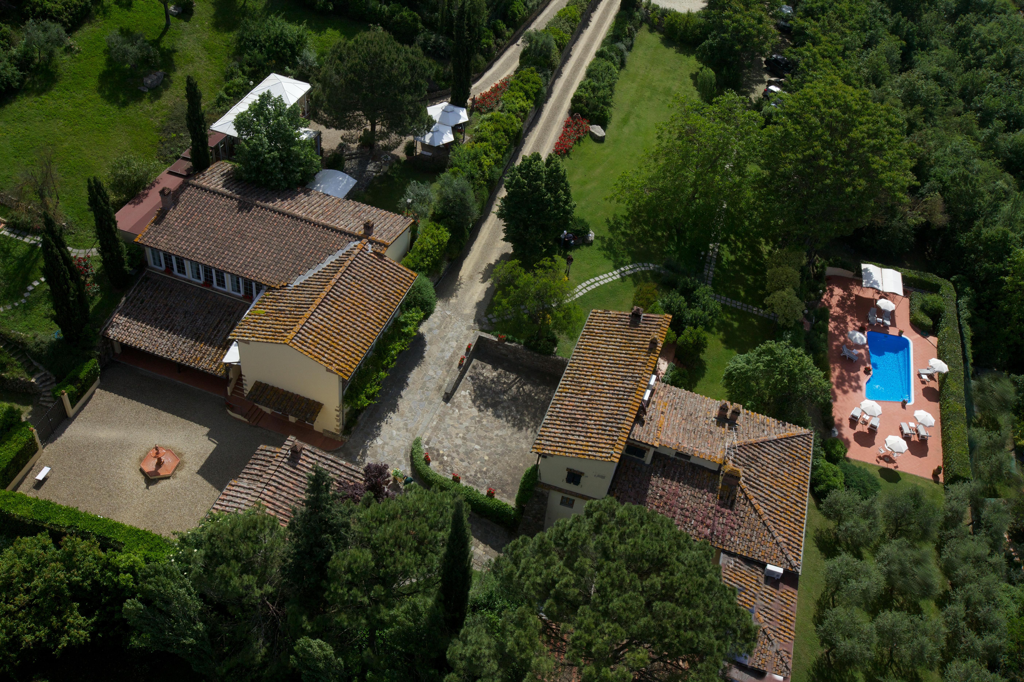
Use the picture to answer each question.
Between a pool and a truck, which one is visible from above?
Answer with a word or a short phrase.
pool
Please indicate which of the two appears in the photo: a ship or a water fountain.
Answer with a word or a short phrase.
water fountain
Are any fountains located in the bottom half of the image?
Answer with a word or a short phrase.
Yes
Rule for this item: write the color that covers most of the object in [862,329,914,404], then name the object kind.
blue swimming pool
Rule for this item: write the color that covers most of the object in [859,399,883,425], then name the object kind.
white umbrella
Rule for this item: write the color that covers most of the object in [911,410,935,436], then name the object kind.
white umbrella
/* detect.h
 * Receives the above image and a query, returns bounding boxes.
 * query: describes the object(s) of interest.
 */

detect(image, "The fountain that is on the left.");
[140,447,180,480]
